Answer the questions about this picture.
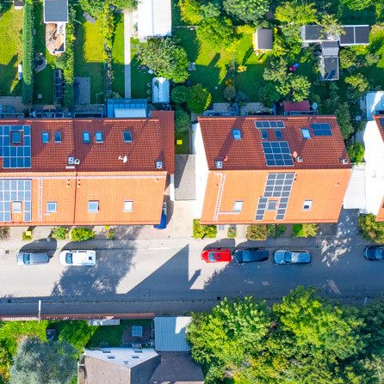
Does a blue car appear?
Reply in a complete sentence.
Yes, there's a blue car here.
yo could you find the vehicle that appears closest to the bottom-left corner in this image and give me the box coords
[17,250,51,266]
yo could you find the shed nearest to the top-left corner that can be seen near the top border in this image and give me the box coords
[43,0,69,24]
